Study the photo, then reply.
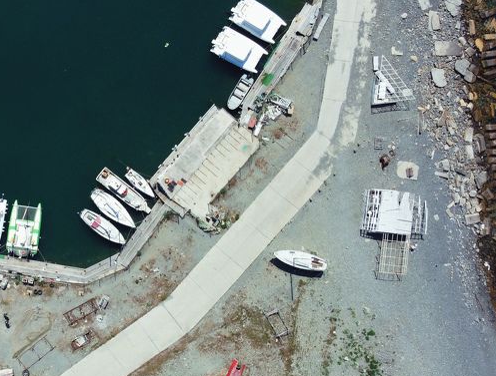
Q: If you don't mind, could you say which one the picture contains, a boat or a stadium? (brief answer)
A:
boat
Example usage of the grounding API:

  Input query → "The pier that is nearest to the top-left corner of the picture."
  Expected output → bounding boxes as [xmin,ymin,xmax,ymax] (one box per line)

[147,103,260,219]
